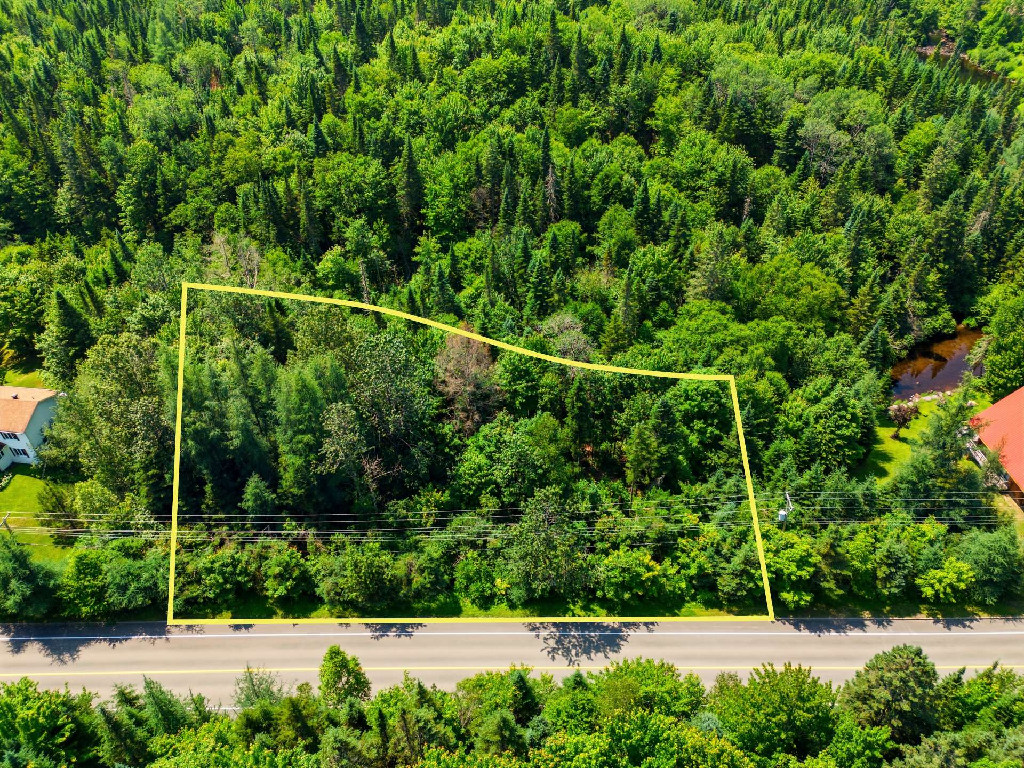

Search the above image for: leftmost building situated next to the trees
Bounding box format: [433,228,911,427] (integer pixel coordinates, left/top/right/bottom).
[0,387,68,472]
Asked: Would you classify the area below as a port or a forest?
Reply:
forest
